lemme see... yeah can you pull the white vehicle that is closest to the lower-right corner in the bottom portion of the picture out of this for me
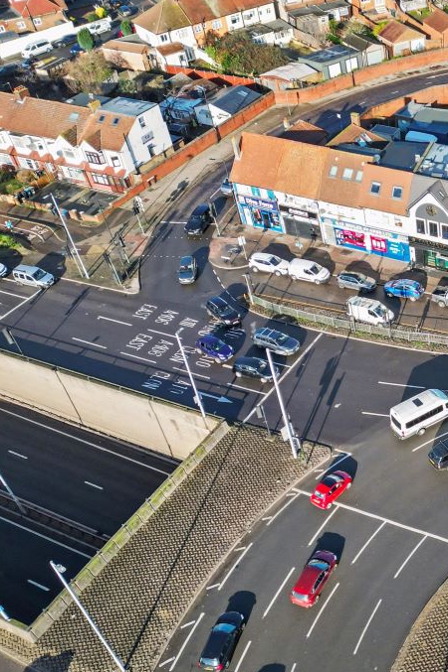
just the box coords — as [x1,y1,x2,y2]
[389,390,448,442]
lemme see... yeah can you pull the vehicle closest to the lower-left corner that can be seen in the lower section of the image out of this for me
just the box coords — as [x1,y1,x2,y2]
[194,609,247,672]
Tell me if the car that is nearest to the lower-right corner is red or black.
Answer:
red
